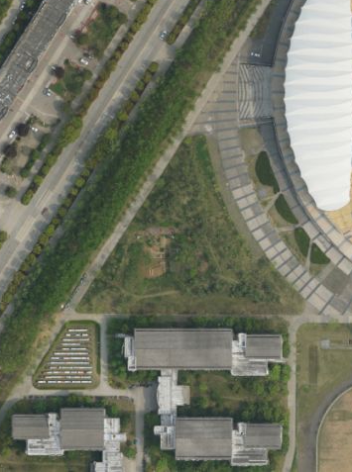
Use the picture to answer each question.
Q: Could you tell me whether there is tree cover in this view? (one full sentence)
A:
Yes, tree cover can be seen from above here.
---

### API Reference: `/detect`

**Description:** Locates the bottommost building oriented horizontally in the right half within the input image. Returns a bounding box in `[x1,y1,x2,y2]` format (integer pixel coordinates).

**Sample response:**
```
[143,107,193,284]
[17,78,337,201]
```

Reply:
[154,418,282,467]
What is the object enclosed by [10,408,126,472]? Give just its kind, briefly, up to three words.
building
